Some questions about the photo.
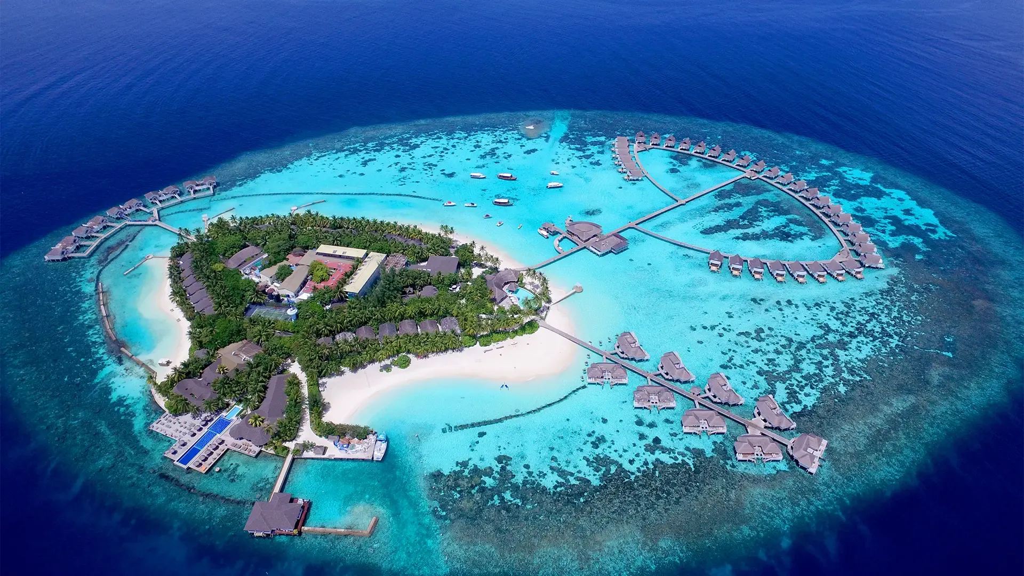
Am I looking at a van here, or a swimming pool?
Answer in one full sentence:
The one in the frame is a swimming pool.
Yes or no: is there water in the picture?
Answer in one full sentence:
Yes, the picture does contain water.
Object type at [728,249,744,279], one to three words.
house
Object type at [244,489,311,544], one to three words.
building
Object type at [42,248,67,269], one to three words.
house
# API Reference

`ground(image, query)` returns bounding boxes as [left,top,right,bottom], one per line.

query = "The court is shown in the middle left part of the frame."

[246,304,291,322]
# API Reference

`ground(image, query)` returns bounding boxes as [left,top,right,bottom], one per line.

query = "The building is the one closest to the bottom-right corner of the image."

[784,434,830,485]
